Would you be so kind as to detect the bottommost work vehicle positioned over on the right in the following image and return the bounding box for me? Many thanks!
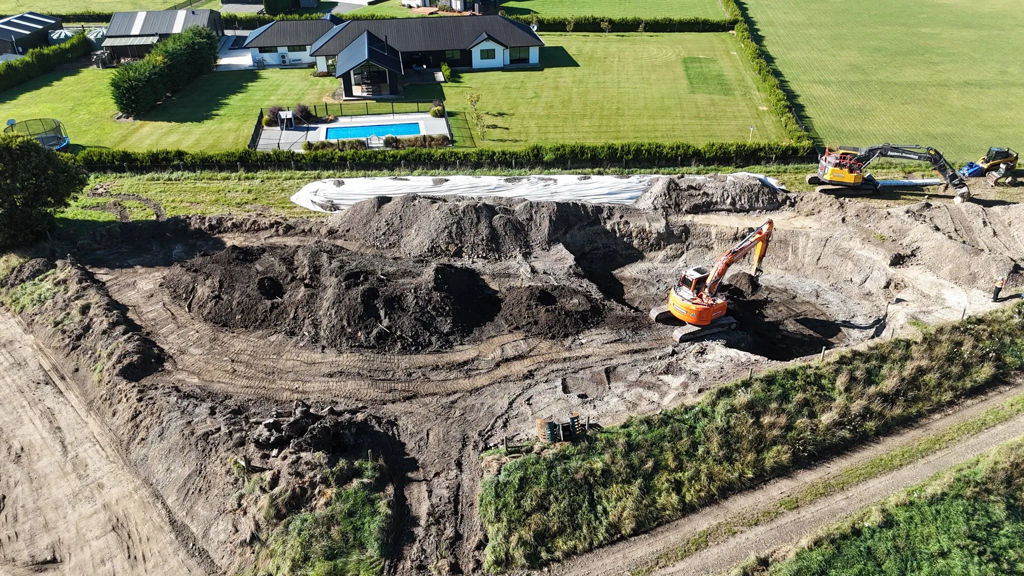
[650,212,779,347]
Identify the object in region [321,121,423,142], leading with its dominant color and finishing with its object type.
blue swimming pool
